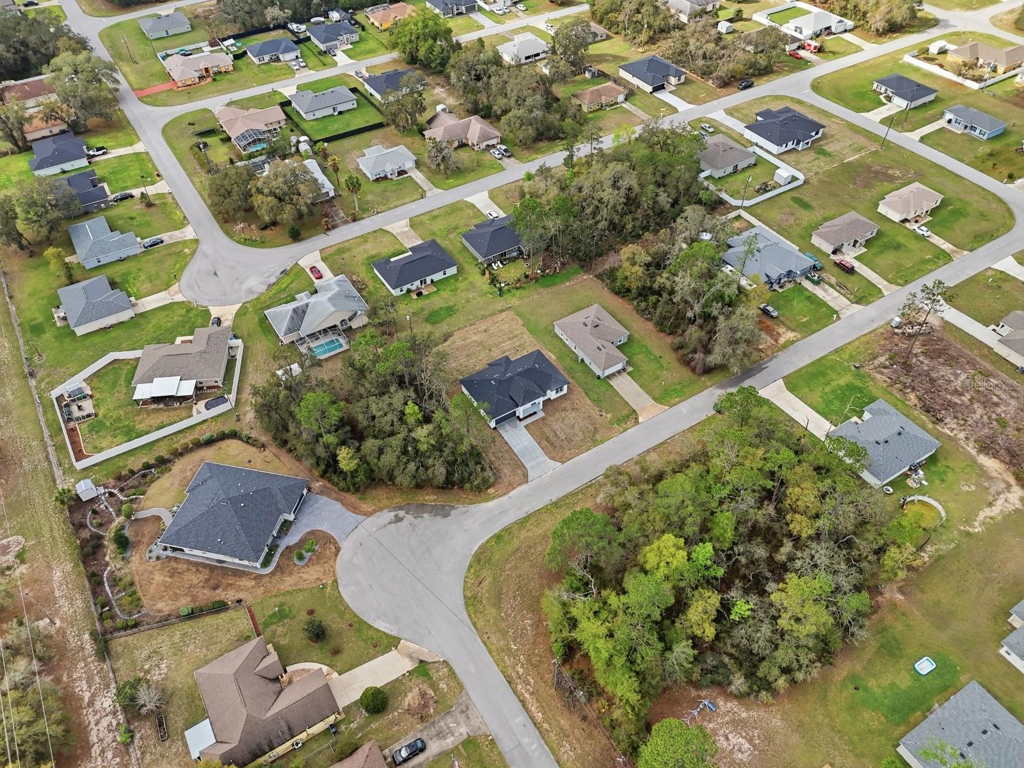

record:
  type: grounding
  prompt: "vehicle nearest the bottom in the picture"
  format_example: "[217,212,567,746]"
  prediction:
[389,732,429,768]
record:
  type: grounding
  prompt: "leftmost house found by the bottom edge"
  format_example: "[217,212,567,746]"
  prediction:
[193,639,338,768]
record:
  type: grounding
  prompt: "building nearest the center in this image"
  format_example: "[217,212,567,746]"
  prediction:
[459,348,572,428]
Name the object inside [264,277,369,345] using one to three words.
building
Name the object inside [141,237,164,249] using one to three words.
vehicle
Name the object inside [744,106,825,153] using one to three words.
house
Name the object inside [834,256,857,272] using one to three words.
car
